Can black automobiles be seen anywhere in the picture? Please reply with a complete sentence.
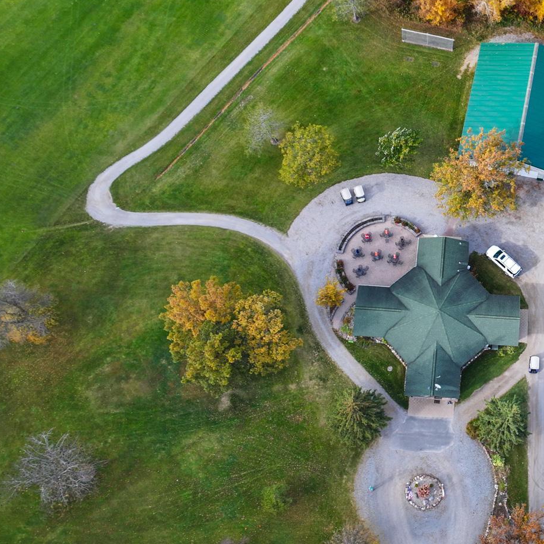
No, no black automobile can be seen from above.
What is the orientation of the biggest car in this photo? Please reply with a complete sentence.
The biggest car is oriented at an angle.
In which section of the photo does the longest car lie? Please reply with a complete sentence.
The longest car appears toward the right of the photo.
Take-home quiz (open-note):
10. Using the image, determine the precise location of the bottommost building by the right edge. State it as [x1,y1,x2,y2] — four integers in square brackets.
[352,237,520,400]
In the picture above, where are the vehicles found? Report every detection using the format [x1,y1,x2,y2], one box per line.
[354,184,367,203]
[527,356,539,375]
[341,187,354,206]
[486,246,523,281]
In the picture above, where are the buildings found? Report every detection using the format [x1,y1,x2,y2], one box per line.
[352,237,520,400]
[459,43,544,181]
